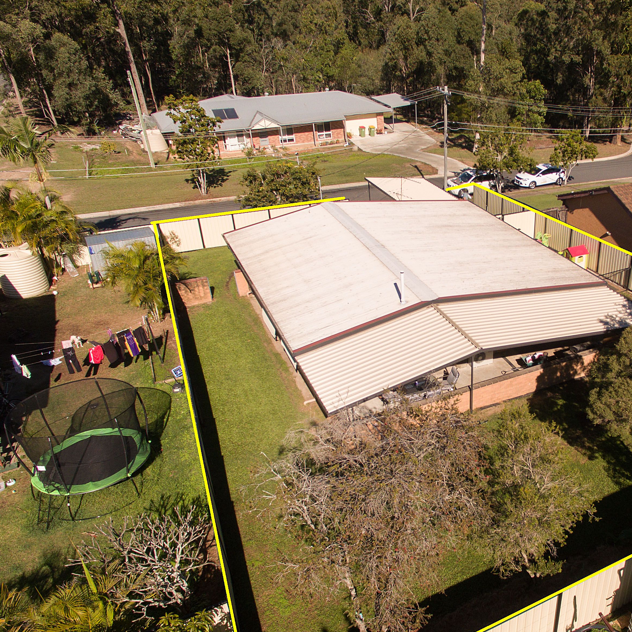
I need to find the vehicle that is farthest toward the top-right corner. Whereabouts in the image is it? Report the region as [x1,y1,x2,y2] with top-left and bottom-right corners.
[514,163,565,189]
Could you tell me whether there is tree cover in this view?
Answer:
Yes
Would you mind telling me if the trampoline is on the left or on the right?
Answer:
left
